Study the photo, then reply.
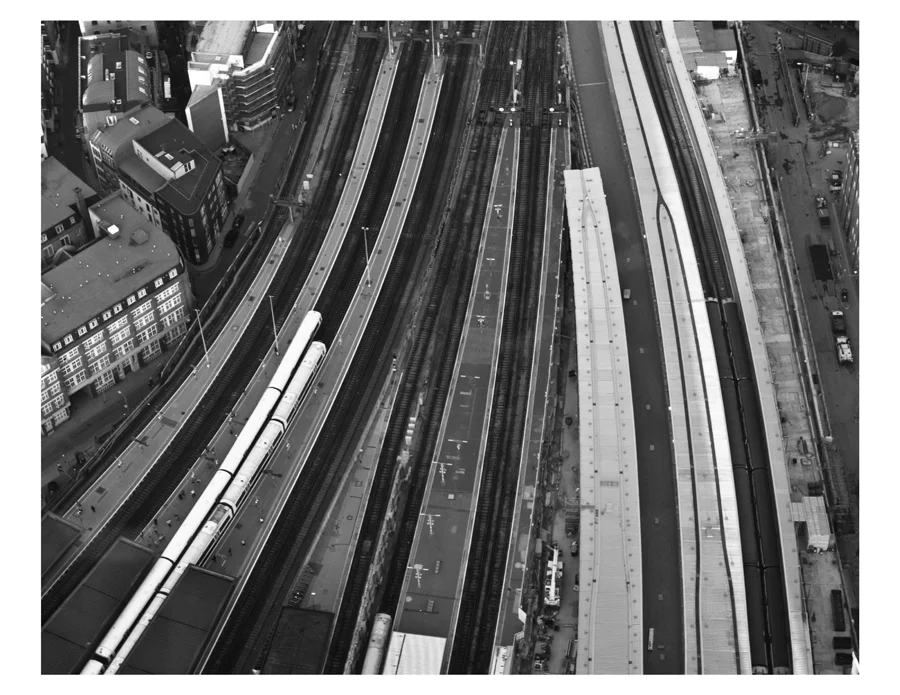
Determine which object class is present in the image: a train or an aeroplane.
train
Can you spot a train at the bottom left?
Yes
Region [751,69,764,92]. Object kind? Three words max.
vehicle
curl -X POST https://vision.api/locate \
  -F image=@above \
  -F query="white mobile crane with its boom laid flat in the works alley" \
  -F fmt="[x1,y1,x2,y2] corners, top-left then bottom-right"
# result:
[538,525,567,611]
